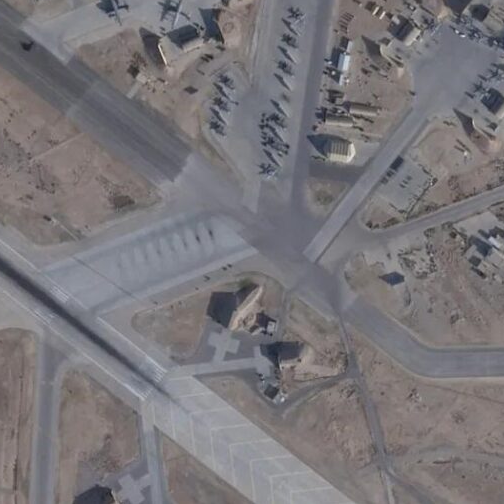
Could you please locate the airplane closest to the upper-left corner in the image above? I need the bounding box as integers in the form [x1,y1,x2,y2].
[106,0,130,26]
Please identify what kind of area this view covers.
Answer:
airport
